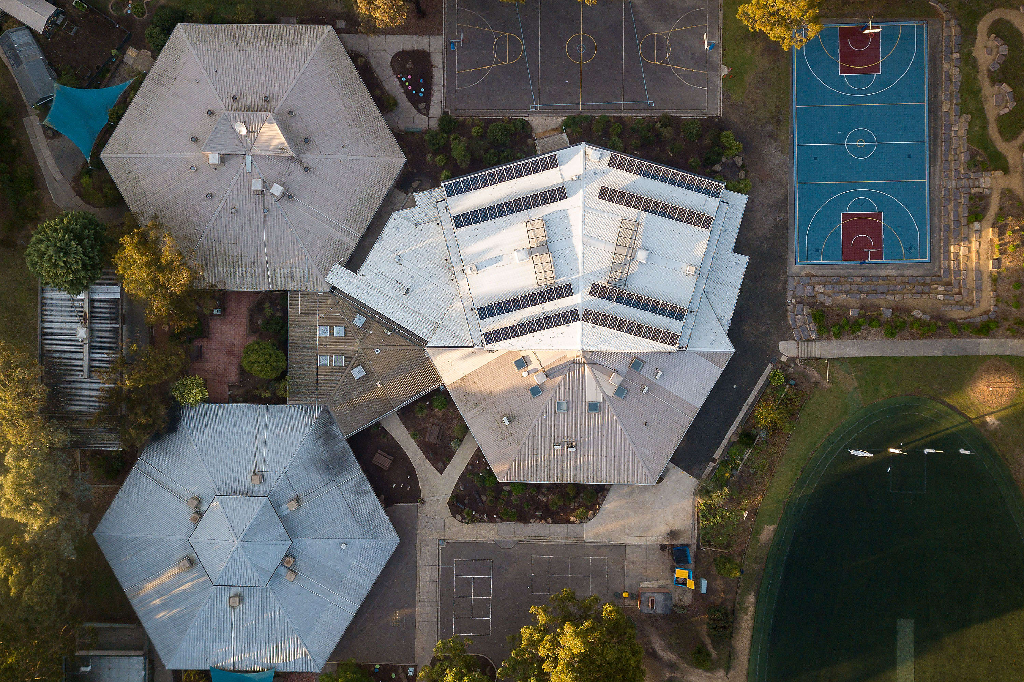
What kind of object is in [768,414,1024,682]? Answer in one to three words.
sports field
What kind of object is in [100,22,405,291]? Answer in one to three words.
building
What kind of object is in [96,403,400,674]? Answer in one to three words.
building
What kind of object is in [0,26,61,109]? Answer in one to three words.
shed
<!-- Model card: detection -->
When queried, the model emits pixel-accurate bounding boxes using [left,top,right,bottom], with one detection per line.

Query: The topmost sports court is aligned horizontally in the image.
[446,0,718,114]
